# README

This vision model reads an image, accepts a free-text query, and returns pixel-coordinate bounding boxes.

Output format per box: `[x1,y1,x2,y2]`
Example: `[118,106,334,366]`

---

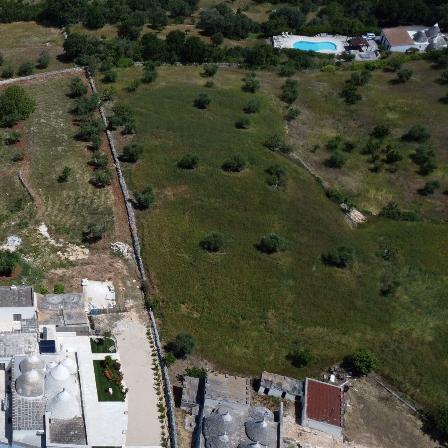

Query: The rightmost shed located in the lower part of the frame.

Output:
[301,380,342,441]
